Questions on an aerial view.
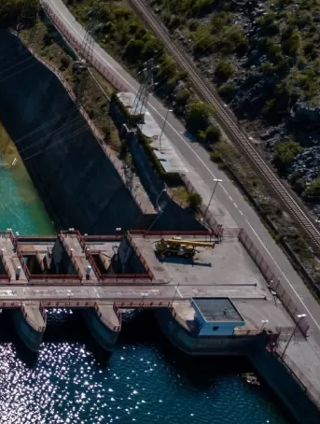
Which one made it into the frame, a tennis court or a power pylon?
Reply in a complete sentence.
The one in the frame is a power pylon.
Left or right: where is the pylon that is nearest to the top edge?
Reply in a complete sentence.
The pylon that is nearest to the top edge appears in the left half of the scene.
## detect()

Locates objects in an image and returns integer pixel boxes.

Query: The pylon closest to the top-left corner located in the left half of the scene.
[82,8,106,54]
